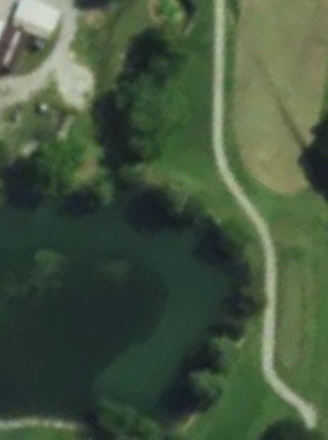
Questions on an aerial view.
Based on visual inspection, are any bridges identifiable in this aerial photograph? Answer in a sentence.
No, I can see no bridge in this picture.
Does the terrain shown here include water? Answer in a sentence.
Yes, the picture does contain water.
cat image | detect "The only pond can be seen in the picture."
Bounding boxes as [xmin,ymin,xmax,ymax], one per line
[0,192,238,420]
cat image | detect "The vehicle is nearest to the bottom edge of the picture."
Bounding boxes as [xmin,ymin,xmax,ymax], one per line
[36,100,49,117]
